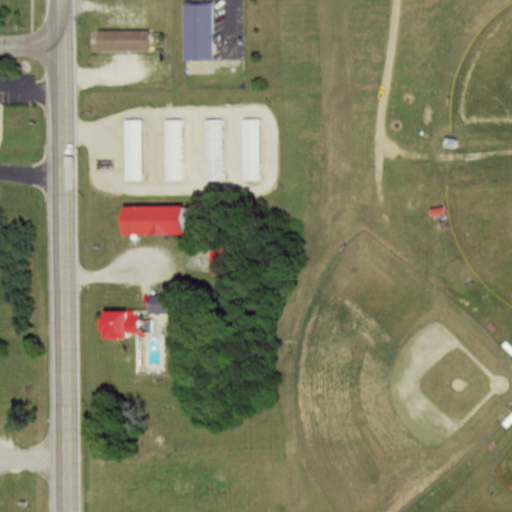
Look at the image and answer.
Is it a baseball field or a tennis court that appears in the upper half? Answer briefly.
baseball field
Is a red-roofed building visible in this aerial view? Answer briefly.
Yes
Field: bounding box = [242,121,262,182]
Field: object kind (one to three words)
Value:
building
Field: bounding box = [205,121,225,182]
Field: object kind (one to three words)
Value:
building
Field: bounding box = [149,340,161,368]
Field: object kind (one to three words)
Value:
swimming pool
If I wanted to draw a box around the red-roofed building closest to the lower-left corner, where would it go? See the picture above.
[98,310,146,340]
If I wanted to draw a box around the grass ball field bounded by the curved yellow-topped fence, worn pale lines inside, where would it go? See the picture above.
[447,2,512,305]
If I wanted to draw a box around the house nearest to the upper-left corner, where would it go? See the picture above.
[90,30,154,53]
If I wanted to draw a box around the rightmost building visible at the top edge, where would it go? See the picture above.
[183,2,216,61]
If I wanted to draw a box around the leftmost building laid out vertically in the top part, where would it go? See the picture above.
[124,121,144,182]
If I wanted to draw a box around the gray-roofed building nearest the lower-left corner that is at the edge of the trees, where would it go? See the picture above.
[148,294,166,314]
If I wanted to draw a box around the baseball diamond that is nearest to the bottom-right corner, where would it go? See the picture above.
[296,230,512,512]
